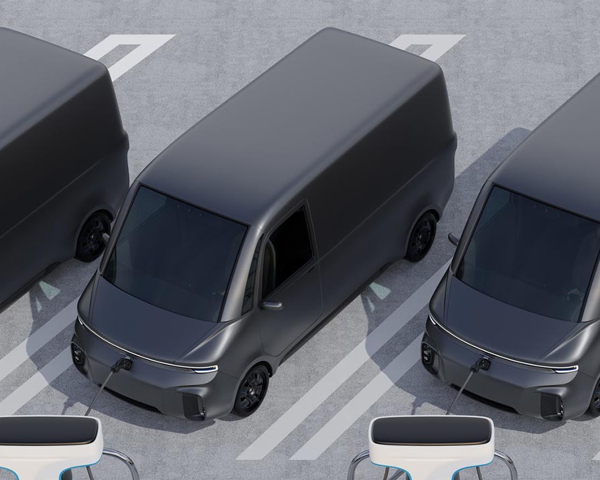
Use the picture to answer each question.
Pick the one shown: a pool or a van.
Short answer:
van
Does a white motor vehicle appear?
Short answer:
No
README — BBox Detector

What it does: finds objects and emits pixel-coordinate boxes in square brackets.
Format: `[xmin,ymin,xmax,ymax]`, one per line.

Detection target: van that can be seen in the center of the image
[66,29,456,426]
